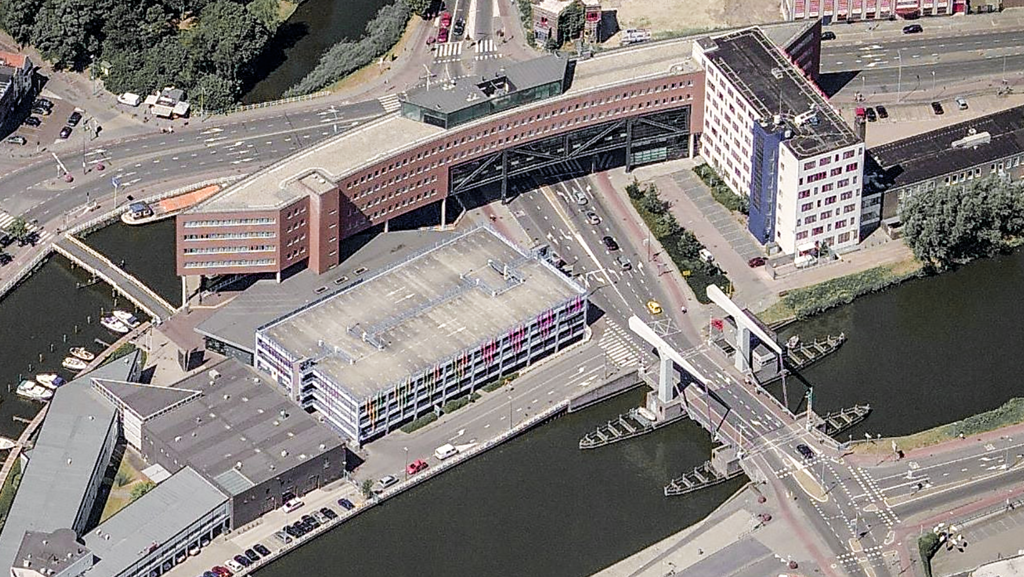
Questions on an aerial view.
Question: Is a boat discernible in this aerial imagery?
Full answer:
Yes, this view includes a boat.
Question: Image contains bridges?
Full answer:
Yes, there's a bridge here.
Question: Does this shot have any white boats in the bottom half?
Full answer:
Yes, looking in the bottom half, one can make out a white boat.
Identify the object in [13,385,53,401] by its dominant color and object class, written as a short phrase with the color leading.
white boat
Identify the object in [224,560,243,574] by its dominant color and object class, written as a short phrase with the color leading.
white car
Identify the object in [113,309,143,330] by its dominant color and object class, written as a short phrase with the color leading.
white boat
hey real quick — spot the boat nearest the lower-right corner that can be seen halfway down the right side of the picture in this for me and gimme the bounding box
[785,335,801,351]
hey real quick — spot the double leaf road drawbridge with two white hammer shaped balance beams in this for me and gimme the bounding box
[628,285,851,479]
